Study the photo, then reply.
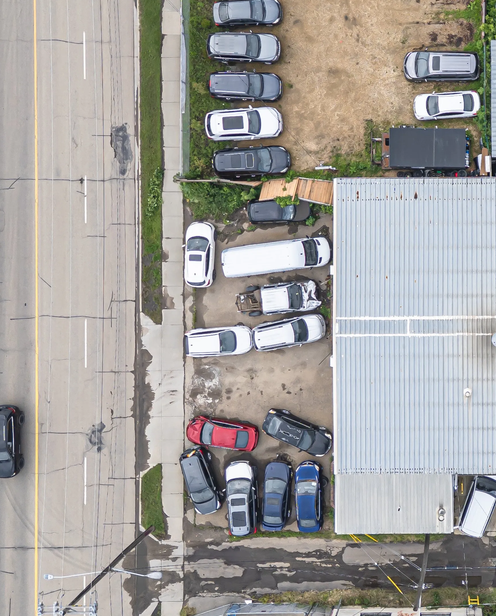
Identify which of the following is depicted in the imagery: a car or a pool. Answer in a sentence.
There is a car in the scene.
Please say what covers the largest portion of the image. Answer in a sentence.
What you mostly see from above here is paved ground.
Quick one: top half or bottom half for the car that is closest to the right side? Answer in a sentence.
The car that is closest to the right side sits in the bottom half of the picture.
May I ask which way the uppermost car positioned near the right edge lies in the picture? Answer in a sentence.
The uppermost car positioned near the right edge has been laid out from left to right relative to the frame.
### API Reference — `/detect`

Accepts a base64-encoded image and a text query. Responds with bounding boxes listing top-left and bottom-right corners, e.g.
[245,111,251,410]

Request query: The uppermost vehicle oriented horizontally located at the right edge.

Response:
[405,47,478,83]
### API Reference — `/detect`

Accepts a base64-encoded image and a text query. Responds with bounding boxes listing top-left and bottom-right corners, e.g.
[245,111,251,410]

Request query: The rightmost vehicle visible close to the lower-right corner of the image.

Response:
[456,475,496,545]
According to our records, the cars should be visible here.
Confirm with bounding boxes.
[405,47,478,83]
[246,198,312,231]
[414,88,481,123]
[212,143,292,179]
[456,475,496,545]
[181,221,216,288]
[252,315,328,353]
[182,324,254,361]
[262,406,333,457]
[213,0,284,28]
[207,68,284,104]
[291,458,326,532]
[223,458,260,536]
[0,404,25,477]
[205,105,284,141]
[260,458,294,531]
[206,29,283,64]
[188,415,261,450]
[175,444,225,514]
